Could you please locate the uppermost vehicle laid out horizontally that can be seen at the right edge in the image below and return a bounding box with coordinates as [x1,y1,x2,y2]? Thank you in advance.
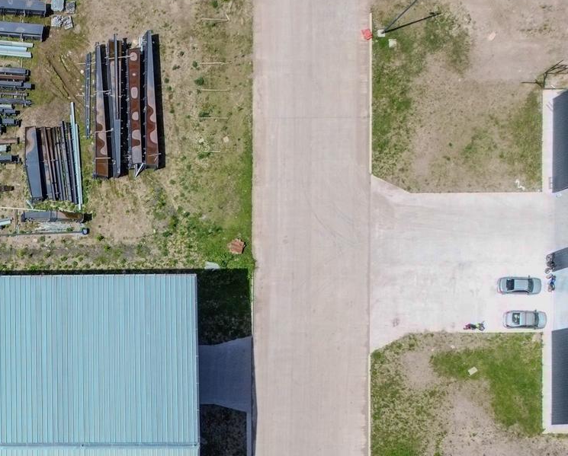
[495,274,541,295]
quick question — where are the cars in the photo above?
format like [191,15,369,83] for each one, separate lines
[495,274,541,295]
[500,308,545,330]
